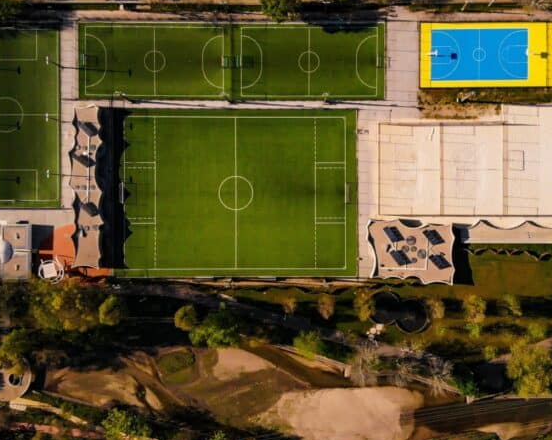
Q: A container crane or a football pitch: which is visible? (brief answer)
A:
football pitch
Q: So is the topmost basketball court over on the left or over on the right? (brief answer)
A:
right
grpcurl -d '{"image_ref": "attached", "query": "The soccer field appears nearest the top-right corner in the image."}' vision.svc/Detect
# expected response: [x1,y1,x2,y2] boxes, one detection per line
[232,23,386,100]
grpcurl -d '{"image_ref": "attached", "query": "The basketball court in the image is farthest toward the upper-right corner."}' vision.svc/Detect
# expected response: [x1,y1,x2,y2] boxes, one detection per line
[420,23,552,87]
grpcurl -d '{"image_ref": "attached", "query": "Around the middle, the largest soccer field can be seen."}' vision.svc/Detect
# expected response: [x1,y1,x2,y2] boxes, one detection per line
[113,110,356,277]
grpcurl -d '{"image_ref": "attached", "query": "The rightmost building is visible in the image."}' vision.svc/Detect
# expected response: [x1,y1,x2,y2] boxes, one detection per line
[368,219,455,286]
